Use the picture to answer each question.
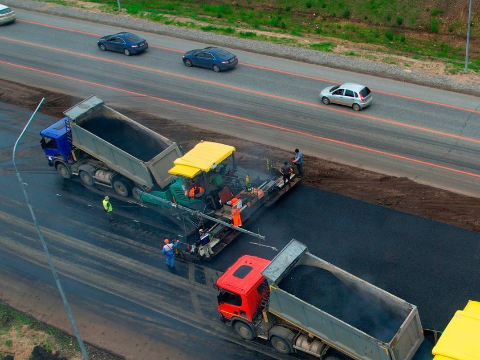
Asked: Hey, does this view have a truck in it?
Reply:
Yes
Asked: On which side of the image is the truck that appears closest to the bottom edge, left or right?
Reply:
right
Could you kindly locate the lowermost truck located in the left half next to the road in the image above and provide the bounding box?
[34,92,187,201]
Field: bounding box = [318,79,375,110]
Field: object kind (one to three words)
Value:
car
